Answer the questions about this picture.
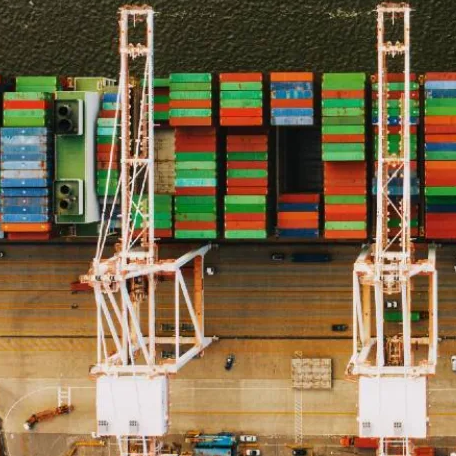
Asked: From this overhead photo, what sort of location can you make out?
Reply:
port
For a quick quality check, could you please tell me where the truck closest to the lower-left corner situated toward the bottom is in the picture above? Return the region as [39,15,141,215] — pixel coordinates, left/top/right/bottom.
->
[20,403,73,432]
